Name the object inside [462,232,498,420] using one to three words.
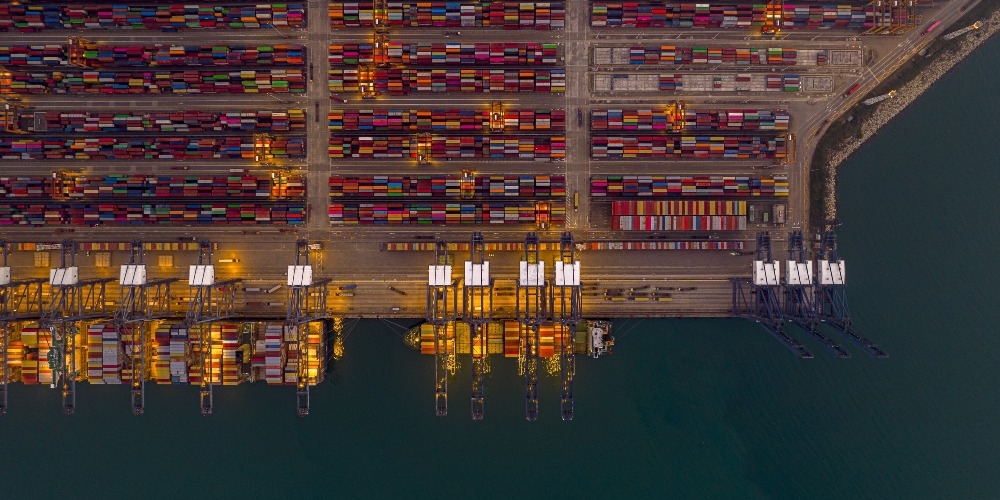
container crane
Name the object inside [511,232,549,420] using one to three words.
container crane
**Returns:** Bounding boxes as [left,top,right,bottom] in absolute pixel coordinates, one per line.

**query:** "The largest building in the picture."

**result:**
[771,204,787,226]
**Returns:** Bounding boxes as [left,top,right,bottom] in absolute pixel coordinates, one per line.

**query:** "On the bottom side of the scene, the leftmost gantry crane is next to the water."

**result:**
[0,242,59,413]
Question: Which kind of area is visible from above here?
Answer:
port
